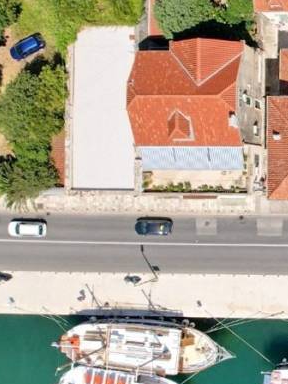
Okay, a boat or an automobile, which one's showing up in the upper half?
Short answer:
automobile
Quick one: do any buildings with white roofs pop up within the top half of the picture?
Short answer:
Yes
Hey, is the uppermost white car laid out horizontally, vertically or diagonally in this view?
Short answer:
horizontally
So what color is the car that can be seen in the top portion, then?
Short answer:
blue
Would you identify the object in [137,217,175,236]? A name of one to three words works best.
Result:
car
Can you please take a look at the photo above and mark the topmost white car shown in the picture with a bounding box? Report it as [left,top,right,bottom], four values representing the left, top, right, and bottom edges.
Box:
[12,218,51,238]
